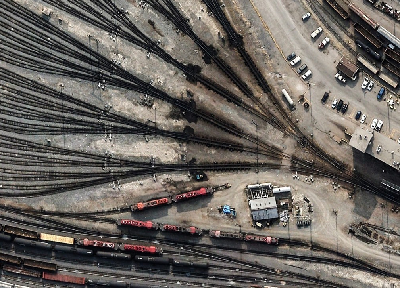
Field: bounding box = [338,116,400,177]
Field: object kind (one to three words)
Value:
building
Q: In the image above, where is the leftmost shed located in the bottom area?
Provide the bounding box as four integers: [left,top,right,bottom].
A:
[251,197,279,221]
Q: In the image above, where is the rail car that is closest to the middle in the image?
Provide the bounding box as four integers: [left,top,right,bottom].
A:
[173,186,215,202]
